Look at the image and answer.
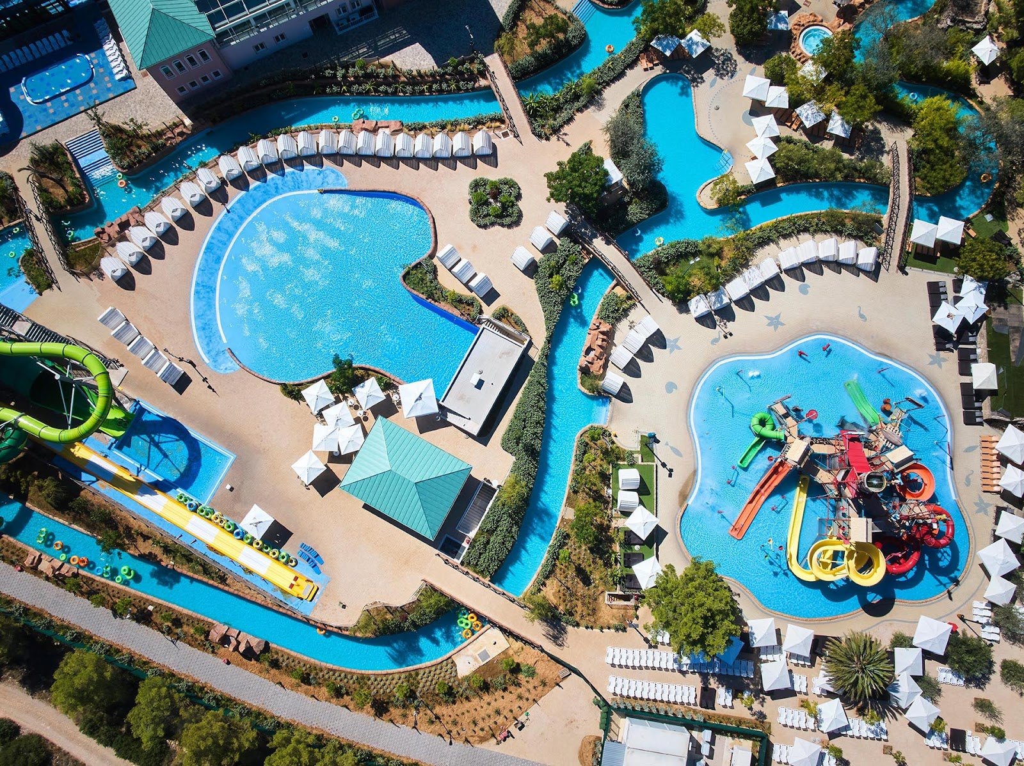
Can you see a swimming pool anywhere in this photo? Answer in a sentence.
Yes, looking at the shot, I can spot a swimming pool.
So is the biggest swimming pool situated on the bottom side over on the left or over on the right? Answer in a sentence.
The biggest swimming pool situated on the bottom side is on the right side of the image.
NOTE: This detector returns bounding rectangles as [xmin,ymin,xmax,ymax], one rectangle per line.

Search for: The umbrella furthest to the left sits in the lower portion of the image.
[234,505,274,545]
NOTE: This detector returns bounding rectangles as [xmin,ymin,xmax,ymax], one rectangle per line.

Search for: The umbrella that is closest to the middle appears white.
[398,377,441,420]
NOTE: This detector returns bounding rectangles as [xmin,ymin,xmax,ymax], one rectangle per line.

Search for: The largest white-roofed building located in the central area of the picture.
[438,326,525,436]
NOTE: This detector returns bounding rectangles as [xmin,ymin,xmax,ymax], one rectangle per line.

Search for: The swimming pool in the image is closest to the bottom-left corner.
[117,404,231,498]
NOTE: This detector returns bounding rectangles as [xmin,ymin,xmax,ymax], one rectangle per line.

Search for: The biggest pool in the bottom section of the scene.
[679,337,971,619]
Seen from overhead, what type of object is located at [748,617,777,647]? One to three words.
umbrella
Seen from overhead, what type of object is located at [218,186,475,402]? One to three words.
swimming pool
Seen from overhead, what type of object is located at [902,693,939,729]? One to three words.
umbrella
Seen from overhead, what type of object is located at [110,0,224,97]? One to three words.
building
